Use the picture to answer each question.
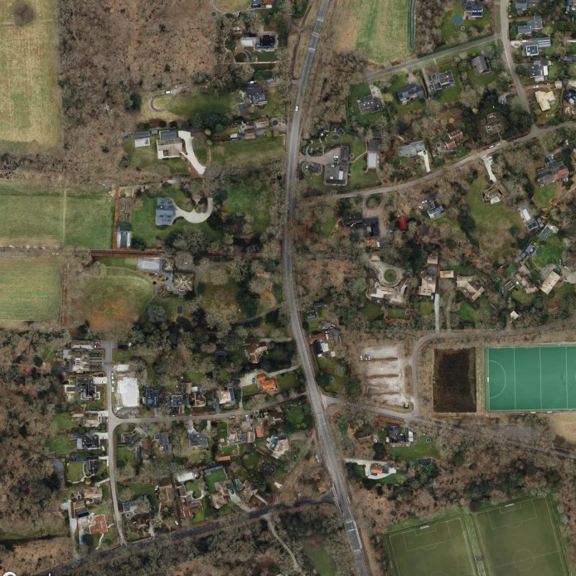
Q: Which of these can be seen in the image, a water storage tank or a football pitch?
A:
football pitch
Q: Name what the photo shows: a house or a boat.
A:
house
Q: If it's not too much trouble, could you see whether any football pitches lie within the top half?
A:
No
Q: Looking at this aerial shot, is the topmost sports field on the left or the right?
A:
right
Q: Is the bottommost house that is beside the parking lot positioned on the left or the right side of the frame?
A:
right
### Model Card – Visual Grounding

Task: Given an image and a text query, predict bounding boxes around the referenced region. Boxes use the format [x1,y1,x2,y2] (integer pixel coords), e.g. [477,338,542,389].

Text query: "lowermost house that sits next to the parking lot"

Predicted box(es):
[387,426,413,447]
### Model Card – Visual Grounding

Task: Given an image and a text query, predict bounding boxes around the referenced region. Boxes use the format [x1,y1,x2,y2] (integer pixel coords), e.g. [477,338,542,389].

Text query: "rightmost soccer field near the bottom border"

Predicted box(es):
[466,484,571,576]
